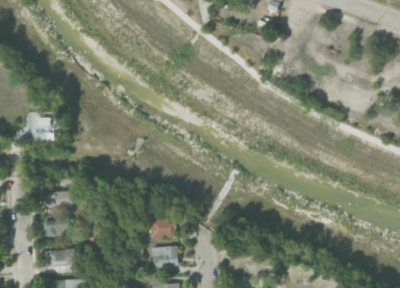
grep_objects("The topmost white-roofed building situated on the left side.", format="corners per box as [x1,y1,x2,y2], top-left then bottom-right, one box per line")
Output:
[28,112,54,141]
